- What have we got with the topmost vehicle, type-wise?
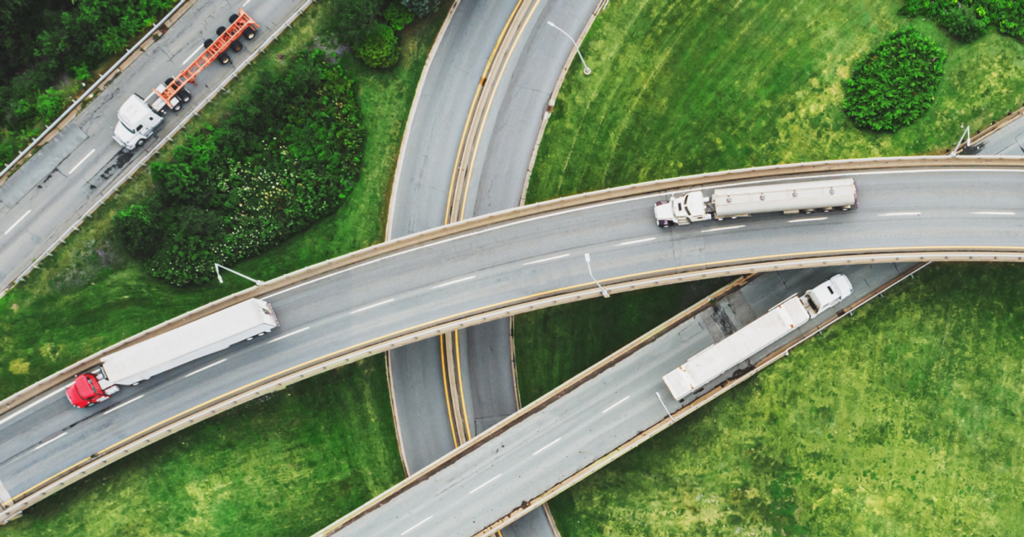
truck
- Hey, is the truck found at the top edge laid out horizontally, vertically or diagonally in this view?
diagonally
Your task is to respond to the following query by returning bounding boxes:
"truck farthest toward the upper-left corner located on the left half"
[114,4,257,151]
